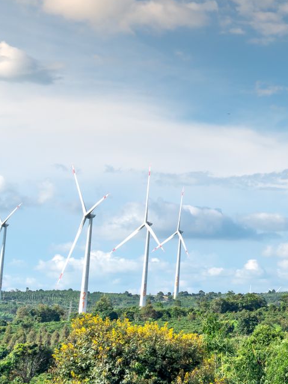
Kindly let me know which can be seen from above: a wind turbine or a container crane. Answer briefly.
wind turbine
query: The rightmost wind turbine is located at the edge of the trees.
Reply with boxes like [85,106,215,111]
[152,188,189,298]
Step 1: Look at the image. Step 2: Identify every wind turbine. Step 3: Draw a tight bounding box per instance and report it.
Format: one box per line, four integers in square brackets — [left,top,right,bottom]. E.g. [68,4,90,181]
[0,203,22,300]
[152,188,189,298]
[60,167,110,311]
[113,163,166,307]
